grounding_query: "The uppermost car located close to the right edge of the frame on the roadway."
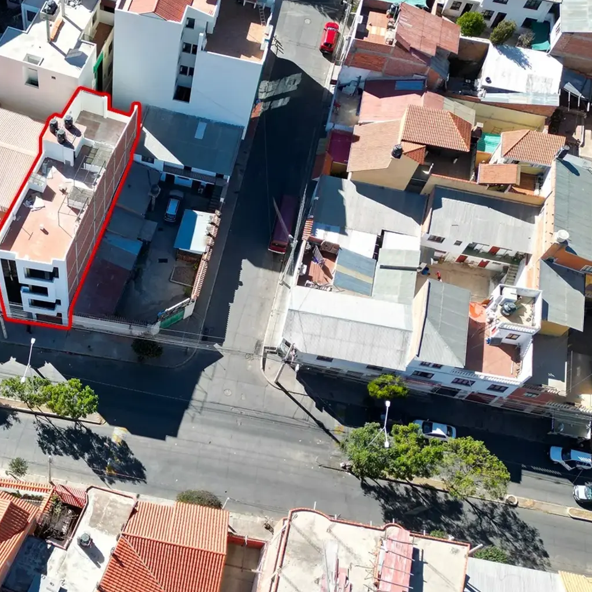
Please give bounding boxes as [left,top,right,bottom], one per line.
[548,446,592,475]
